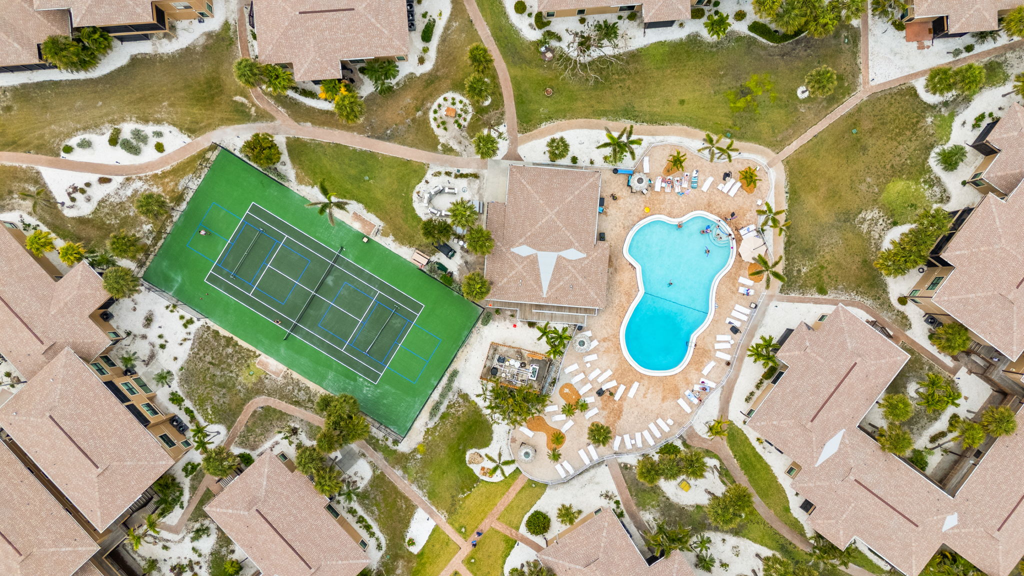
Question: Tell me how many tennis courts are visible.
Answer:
1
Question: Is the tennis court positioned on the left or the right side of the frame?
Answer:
left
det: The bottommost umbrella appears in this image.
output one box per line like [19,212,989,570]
[515,443,538,466]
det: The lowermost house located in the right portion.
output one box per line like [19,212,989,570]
[538,505,696,576]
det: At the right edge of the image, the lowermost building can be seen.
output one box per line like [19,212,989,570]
[738,301,1024,576]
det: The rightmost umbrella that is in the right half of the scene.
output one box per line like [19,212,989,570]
[739,235,769,262]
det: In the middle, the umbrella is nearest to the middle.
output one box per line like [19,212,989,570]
[571,332,594,353]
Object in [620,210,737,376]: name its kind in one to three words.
swimming pool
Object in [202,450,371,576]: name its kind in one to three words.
house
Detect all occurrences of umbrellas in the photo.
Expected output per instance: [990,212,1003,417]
[628,171,652,195]
[571,332,594,353]
[515,443,538,466]
[739,235,769,262]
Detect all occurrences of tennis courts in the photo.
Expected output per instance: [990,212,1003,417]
[143,150,483,441]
